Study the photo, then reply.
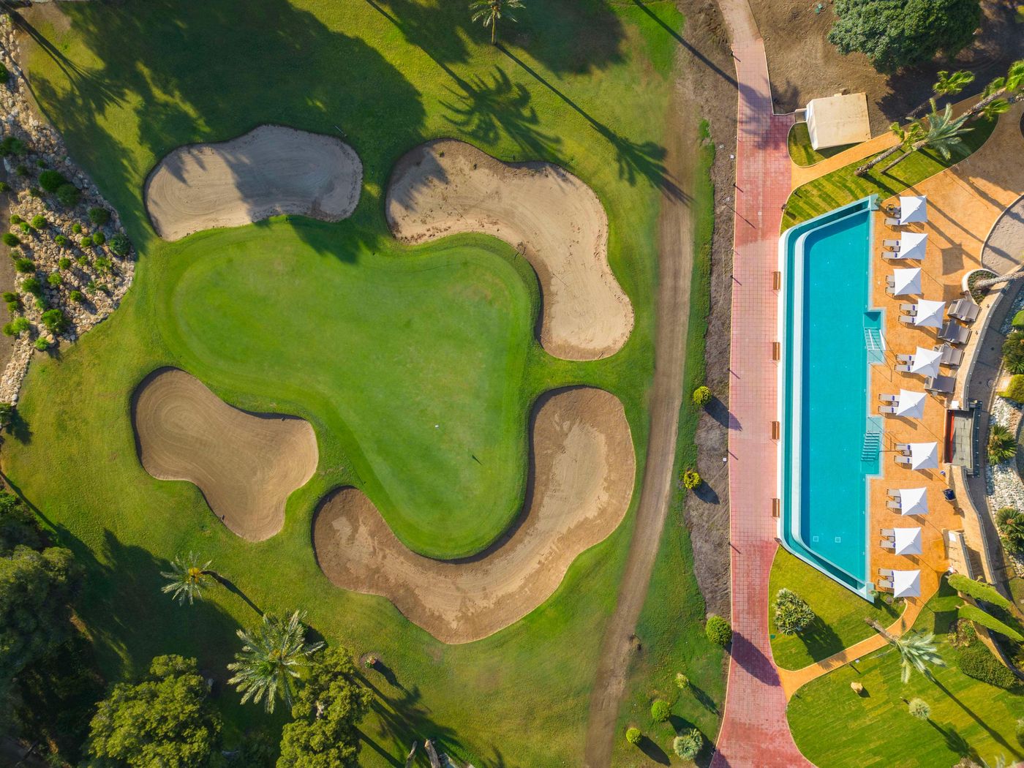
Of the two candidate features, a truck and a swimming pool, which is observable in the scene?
swimming pool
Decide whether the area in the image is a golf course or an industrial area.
golf course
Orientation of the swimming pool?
vertically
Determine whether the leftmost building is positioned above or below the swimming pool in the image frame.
above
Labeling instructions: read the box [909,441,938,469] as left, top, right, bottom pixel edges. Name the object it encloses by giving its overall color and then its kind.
white umbrella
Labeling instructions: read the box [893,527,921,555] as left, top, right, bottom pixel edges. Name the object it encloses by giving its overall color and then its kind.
white umbrella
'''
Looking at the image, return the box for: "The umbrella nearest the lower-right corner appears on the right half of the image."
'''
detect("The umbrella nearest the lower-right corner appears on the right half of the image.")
[893,570,920,597]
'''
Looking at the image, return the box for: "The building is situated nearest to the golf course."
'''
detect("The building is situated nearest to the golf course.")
[794,92,871,151]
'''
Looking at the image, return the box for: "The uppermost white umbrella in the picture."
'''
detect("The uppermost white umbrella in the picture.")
[899,196,927,224]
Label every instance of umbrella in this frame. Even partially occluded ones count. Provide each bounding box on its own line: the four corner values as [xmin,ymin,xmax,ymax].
[899,196,927,224]
[893,527,921,555]
[898,232,926,259]
[895,388,926,419]
[909,441,938,469]
[911,347,942,378]
[893,268,921,296]
[899,488,927,515]
[893,570,920,597]
[915,299,944,327]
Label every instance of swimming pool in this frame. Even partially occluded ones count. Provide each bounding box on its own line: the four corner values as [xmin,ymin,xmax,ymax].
[776,193,887,603]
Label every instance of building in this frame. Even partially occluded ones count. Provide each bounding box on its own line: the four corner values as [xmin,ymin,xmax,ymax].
[794,92,871,151]
[941,402,982,477]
